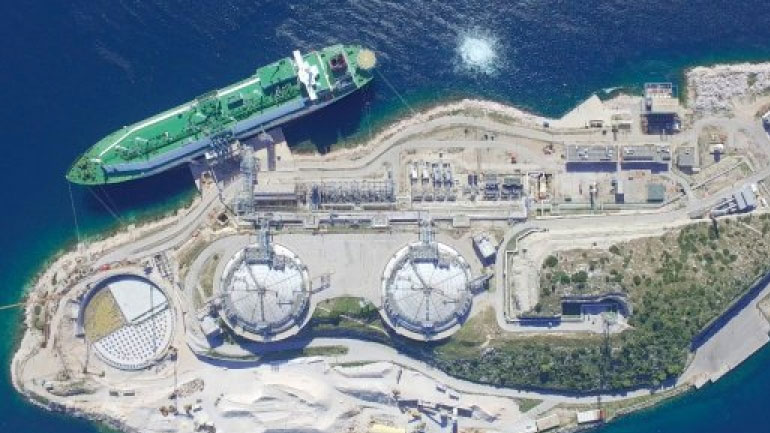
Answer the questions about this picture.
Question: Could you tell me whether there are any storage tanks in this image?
Yes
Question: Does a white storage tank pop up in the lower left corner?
Yes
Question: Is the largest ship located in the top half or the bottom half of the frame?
top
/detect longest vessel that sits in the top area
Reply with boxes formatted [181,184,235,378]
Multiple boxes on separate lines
[66,41,375,183]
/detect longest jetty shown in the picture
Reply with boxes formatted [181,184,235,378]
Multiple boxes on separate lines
[187,127,294,200]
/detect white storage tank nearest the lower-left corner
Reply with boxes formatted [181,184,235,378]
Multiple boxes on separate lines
[77,272,176,373]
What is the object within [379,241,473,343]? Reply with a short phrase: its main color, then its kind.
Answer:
white storage tank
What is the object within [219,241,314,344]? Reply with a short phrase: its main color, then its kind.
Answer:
white storage tank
